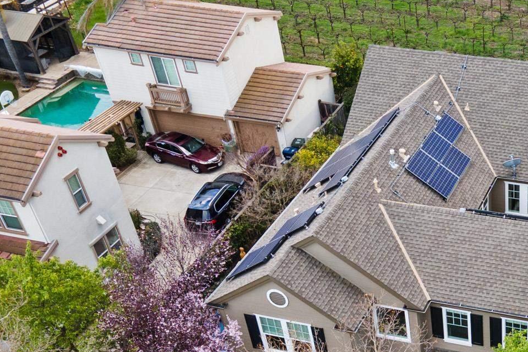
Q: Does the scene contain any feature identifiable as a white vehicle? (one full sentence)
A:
No, no white vehicle is visible in the scene.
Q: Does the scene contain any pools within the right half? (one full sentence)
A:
No, within the right half there is no pool.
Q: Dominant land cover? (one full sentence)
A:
The scene is dominated by buildings.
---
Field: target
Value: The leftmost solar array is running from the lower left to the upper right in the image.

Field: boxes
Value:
[228,201,323,279]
